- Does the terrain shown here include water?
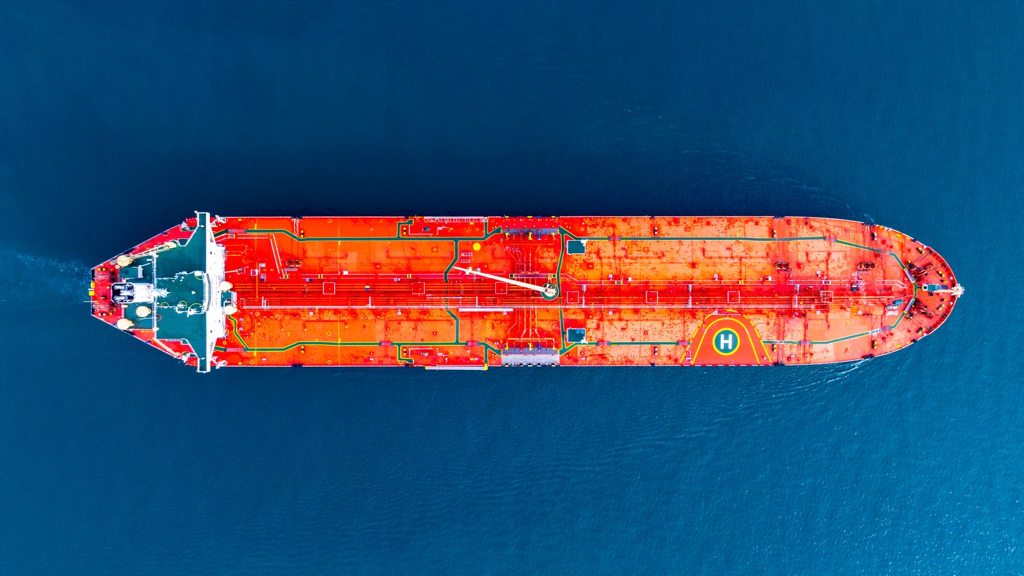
Yes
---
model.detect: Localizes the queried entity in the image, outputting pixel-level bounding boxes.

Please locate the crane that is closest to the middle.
[454,264,559,300]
